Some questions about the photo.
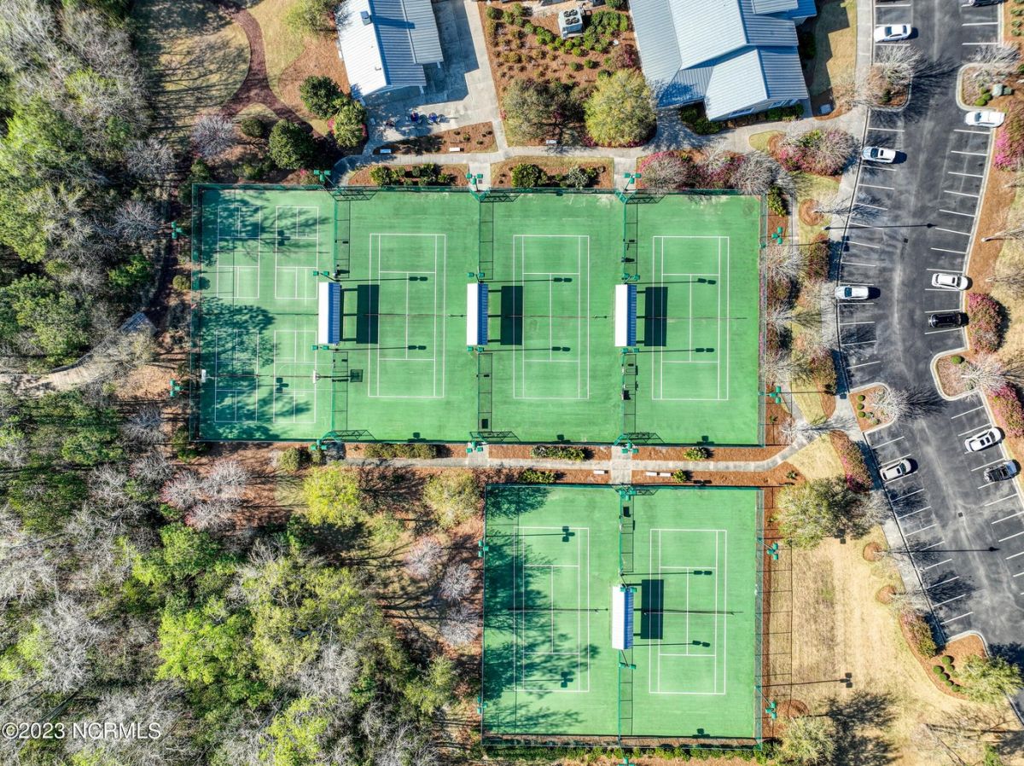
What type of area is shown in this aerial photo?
sports ground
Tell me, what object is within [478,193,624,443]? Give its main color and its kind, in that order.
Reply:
green tennis court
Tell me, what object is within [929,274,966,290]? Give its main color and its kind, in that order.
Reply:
white car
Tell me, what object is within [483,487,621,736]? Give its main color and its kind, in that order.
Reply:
green tennis court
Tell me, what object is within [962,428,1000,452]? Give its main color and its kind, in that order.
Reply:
white car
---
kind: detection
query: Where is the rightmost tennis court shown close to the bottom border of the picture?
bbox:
[619,488,757,738]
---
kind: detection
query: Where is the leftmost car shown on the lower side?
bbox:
[876,458,911,481]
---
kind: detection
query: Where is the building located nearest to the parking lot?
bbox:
[631,0,816,125]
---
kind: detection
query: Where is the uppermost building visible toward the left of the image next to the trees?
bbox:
[330,0,444,107]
